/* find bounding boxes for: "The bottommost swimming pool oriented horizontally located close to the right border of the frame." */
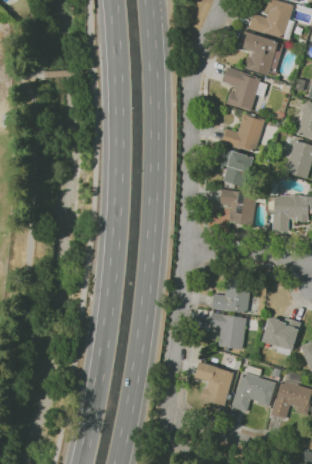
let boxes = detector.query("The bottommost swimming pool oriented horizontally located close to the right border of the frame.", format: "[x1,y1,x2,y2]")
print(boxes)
[277,178,312,196]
